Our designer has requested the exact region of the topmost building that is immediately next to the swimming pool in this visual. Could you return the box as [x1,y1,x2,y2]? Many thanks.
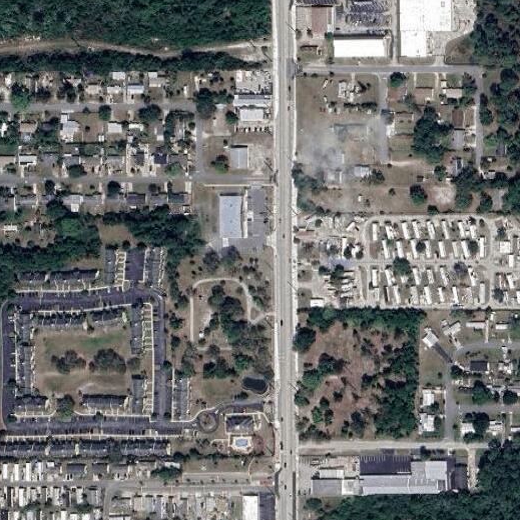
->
[228,414,254,433]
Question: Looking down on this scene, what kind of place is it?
residential area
